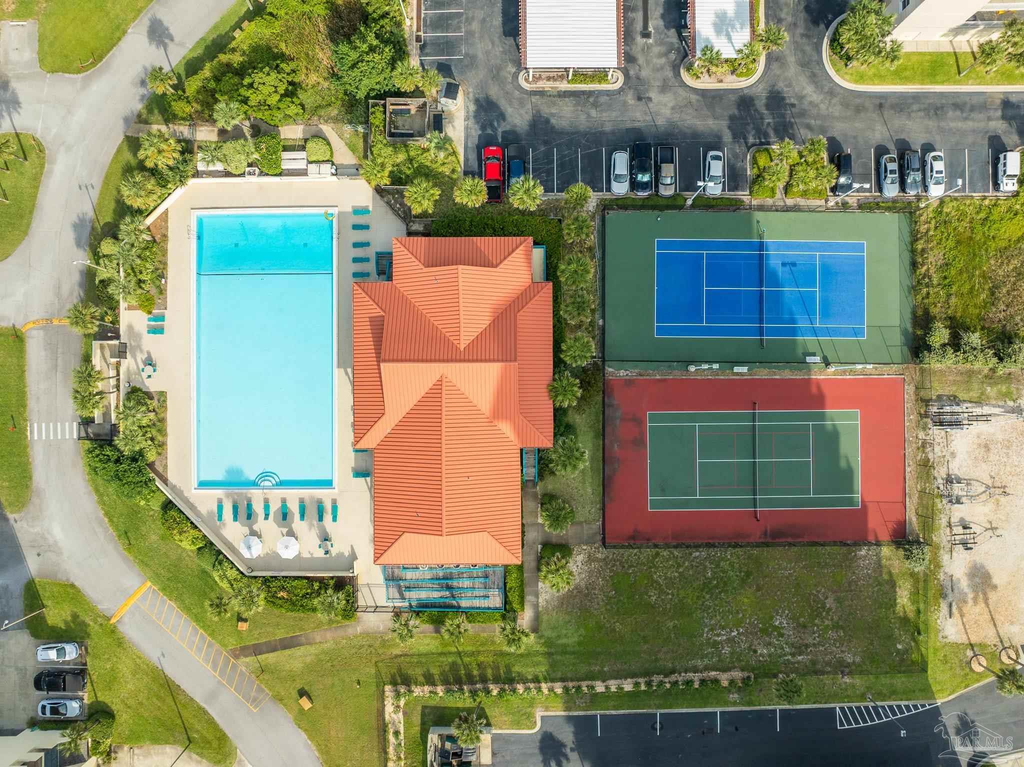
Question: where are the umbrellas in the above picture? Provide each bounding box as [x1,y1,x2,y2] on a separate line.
[241,535,263,558]
[279,535,301,557]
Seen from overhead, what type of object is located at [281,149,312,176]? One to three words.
shed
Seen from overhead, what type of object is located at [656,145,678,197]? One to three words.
vehicle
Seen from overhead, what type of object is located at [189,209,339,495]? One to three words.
swimming pool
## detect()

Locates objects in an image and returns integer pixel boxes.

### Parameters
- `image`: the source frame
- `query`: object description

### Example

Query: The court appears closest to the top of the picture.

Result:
[607,210,914,371]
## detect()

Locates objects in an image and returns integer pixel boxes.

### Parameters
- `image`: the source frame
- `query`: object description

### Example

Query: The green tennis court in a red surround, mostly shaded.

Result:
[607,378,905,544]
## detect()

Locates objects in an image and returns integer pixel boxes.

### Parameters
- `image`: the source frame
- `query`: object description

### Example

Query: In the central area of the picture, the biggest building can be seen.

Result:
[353,237,553,565]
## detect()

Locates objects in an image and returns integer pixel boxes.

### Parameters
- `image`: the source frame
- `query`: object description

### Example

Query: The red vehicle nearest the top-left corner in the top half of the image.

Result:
[482,147,504,202]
